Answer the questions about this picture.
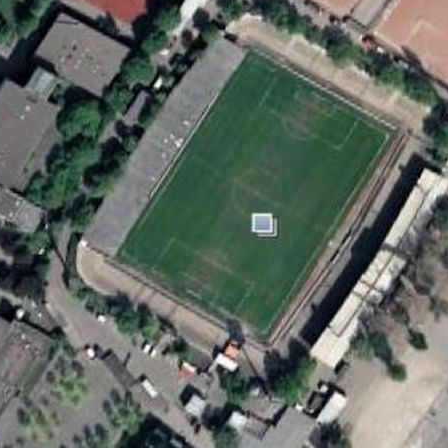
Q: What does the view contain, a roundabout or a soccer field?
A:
soccer field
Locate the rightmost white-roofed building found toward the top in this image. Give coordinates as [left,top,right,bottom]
[174,0,209,35]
